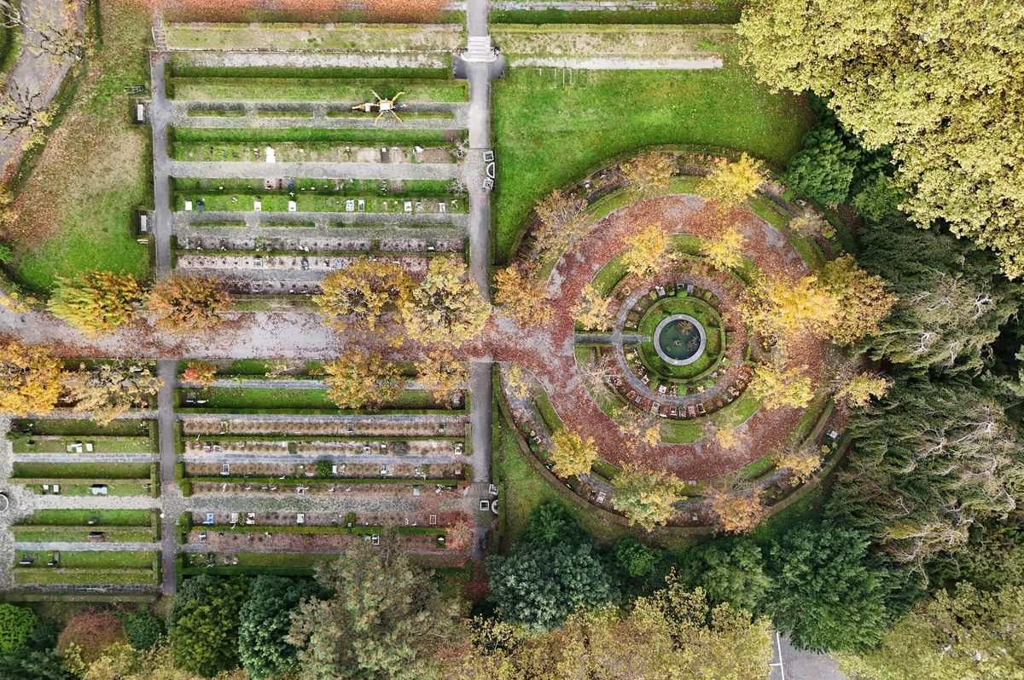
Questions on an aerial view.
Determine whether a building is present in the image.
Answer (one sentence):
No, the scene contains no building.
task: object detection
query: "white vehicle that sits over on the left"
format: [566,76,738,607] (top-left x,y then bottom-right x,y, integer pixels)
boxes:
[352,88,407,127]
